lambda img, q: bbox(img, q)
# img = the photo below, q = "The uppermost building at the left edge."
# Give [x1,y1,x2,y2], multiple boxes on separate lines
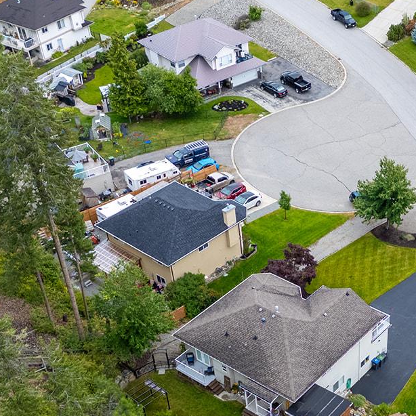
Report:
[0,0,93,67]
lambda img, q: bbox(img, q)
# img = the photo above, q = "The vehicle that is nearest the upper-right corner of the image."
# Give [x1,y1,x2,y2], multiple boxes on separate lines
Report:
[327,4,357,28]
